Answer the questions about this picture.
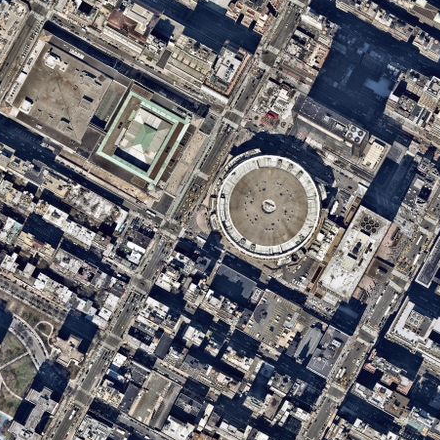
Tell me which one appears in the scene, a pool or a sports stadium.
sports stadium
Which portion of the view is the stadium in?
center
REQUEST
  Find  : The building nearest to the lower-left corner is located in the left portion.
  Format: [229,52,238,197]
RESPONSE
[6,383,64,440]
